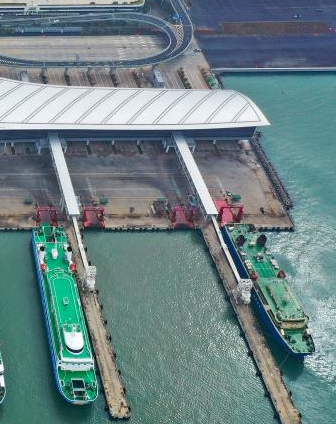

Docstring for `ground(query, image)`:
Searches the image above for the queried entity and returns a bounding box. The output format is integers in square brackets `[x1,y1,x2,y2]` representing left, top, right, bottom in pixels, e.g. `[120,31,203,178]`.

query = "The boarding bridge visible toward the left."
[49,139,98,296]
